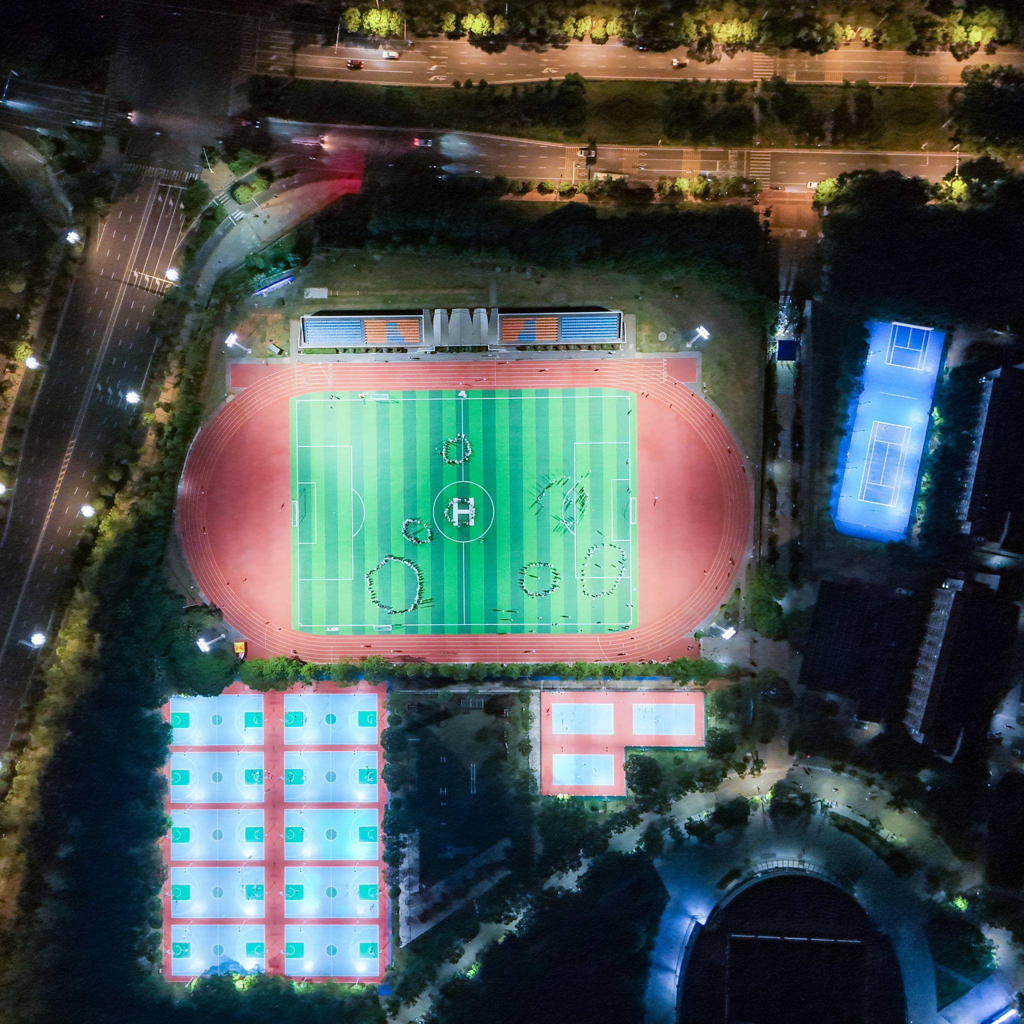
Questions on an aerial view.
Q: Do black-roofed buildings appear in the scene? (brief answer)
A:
Yes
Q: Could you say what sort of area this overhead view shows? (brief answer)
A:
sports ground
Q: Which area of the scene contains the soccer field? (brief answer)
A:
center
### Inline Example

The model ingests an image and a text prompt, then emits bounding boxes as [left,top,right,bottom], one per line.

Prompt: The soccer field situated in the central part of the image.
[289,387,639,635]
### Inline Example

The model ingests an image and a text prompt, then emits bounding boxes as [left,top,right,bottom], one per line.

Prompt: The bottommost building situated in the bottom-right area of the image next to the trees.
[660,852,910,1024]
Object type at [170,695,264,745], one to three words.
basketball court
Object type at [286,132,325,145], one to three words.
vehicle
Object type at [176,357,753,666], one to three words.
running track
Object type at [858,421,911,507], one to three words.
tennis court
